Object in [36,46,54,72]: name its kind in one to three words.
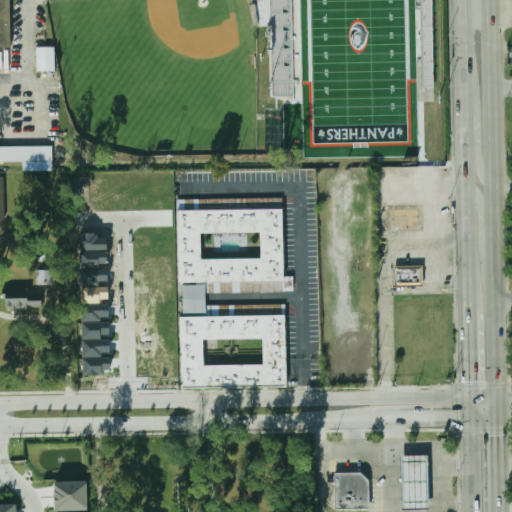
shed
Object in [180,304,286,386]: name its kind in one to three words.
building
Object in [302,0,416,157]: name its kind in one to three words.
sports field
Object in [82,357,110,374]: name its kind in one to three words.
house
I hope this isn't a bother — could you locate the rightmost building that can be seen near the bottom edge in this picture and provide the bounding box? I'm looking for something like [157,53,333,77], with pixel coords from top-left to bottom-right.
[335,472,369,510]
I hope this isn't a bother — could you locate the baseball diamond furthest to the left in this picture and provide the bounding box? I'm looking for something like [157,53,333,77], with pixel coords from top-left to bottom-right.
[47,0,257,156]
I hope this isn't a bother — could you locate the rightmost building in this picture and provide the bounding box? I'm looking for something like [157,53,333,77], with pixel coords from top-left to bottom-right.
[396,266,422,286]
